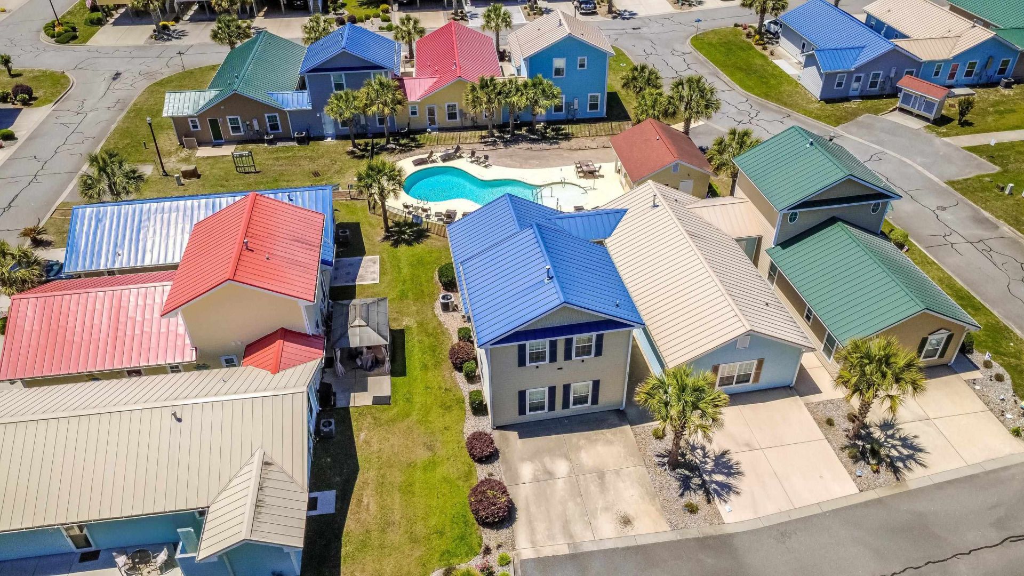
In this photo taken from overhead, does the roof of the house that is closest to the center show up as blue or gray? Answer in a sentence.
The color of the roof of the house that is closest to the center is blue.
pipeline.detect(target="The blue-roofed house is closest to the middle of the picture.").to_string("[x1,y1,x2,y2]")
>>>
[445,190,646,431]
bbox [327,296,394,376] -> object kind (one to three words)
gazebo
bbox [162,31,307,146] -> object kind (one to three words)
house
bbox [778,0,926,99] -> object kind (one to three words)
house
